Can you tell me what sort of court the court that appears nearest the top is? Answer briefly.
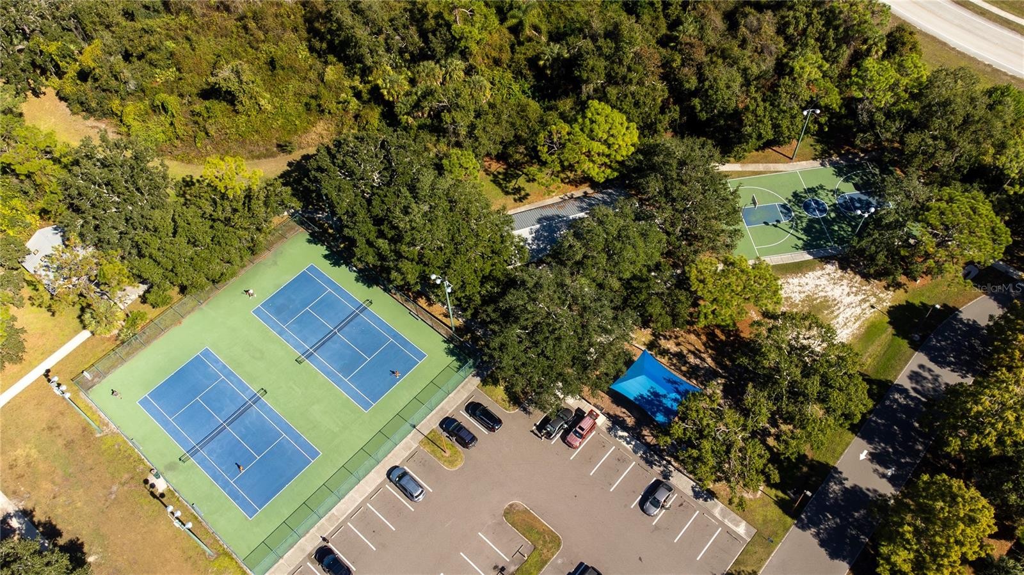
basketball court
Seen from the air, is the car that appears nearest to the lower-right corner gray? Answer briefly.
Yes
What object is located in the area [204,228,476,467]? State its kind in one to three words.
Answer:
tennis court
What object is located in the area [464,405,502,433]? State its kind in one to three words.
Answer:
car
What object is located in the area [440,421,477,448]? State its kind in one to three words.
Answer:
car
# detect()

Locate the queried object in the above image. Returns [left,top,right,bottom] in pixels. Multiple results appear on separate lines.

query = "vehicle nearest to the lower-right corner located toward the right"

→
[643,479,676,518]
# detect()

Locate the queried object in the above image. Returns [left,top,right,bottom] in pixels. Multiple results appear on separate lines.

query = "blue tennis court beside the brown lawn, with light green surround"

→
[87,305,382,575]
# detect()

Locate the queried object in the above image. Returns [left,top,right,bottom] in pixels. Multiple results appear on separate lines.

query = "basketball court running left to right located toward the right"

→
[707,158,929,262]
